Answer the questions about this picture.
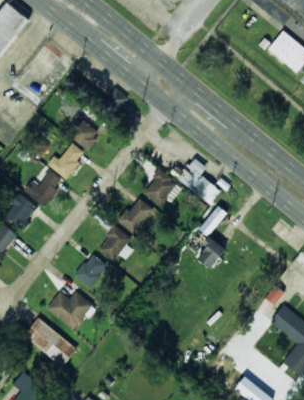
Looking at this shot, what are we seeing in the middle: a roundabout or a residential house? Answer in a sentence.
Looking in the middle, you will find a residential house.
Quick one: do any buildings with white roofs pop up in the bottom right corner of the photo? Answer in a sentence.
Yes, there is a building with a white roof in the bottom right corner of the photo.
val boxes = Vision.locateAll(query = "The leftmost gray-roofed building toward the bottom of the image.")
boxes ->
[0,226,18,259]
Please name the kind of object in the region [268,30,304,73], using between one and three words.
building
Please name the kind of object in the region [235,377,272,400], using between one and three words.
building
